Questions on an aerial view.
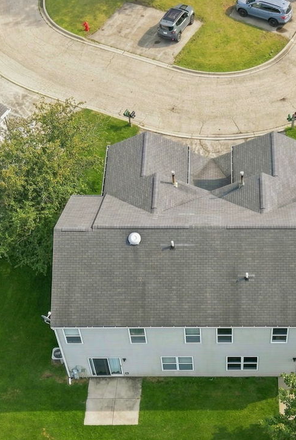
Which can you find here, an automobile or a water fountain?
automobile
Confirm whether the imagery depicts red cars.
No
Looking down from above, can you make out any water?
No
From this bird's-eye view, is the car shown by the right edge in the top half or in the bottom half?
top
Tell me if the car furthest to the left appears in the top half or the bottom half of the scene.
top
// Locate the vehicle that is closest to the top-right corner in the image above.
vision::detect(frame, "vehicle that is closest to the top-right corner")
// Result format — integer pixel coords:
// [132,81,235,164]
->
[233,0,295,27]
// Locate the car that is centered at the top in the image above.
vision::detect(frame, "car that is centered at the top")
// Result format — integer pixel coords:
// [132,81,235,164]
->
[155,6,196,44]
